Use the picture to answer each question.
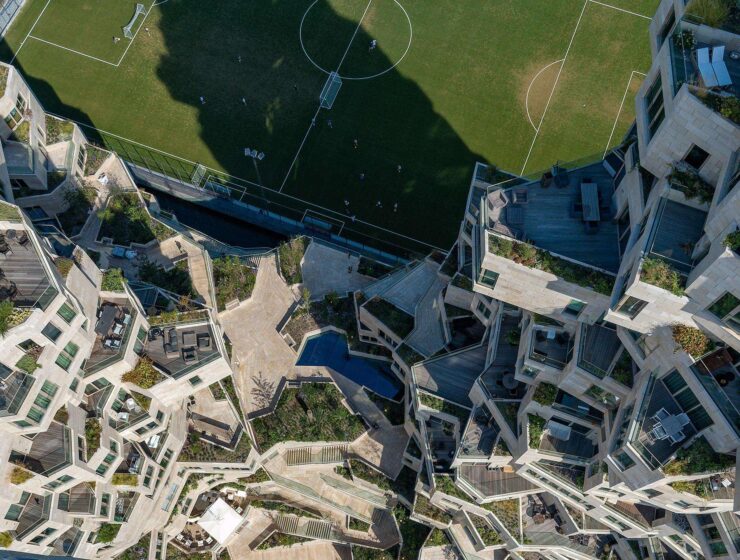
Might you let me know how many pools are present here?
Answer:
1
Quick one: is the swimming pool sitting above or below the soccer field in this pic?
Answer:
below it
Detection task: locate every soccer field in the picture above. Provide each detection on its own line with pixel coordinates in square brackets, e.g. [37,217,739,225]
[0,0,684,259]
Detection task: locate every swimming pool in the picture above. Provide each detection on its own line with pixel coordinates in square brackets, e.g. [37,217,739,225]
[298,330,404,401]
